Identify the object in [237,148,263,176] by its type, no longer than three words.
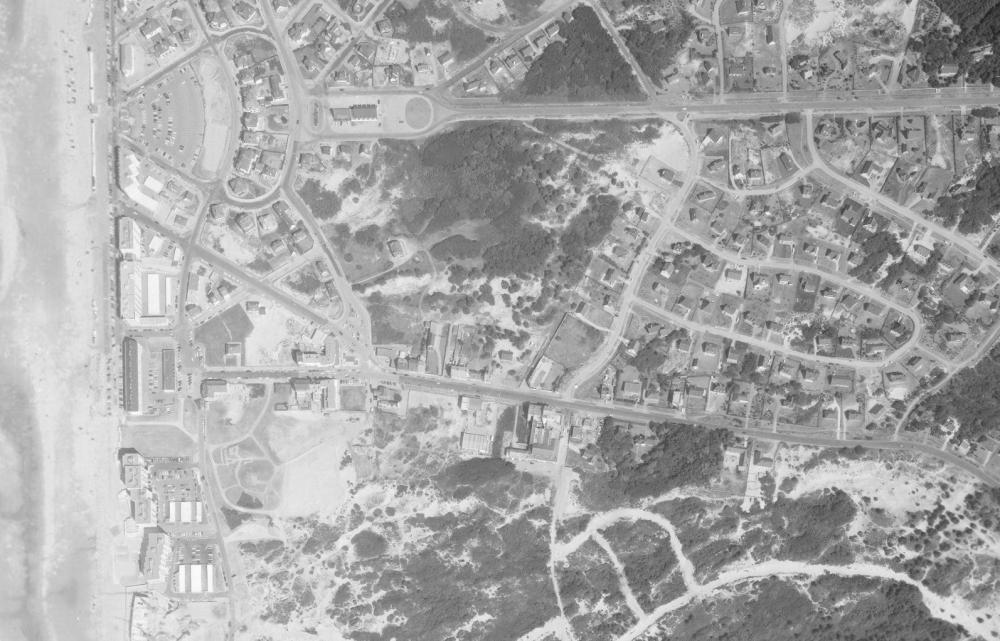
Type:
house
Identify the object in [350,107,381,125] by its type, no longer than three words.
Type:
building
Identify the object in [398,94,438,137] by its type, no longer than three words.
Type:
roundabout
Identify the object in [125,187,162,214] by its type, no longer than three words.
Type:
building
